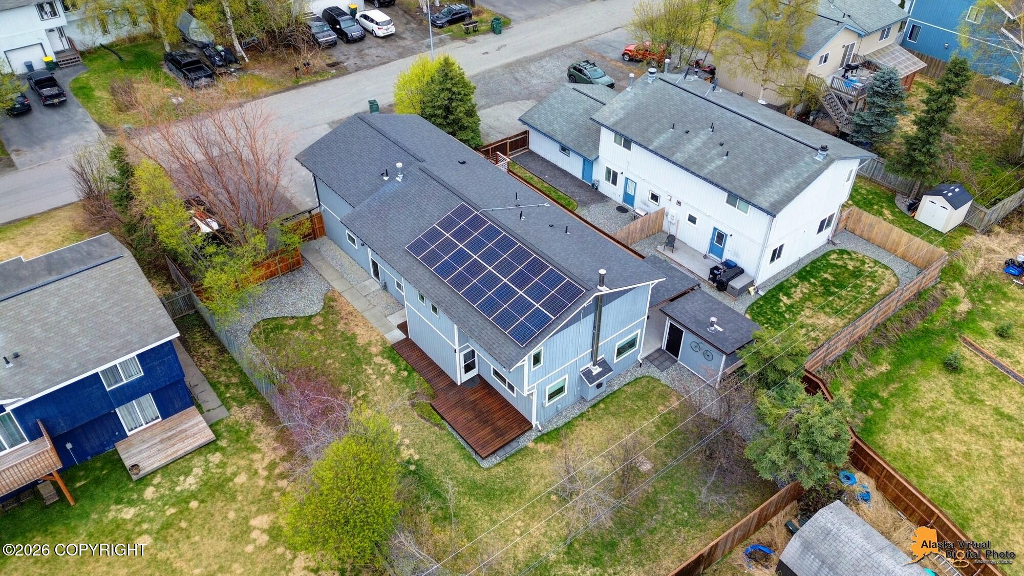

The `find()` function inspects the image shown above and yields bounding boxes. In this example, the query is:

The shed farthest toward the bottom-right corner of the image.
[774,495,959,576]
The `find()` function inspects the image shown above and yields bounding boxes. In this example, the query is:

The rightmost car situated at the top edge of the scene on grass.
[430,2,476,29]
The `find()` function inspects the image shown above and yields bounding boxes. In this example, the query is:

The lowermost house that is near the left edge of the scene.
[0,232,196,508]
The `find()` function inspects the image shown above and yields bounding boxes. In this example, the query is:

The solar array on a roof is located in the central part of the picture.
[405,201,585,345]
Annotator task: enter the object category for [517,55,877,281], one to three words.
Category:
house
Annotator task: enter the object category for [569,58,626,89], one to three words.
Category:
car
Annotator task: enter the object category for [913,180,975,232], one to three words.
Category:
shed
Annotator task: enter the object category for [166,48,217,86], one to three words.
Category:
truck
